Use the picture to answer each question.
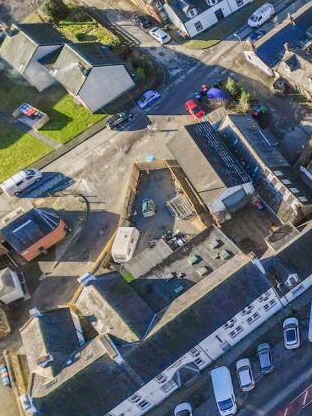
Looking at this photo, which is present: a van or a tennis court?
van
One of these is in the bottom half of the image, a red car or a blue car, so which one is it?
blue car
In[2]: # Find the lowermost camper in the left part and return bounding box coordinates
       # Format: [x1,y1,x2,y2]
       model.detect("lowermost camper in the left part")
[107,220,141,265]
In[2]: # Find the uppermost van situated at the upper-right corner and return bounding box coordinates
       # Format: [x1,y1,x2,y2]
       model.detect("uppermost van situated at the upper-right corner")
[246,0,277,29]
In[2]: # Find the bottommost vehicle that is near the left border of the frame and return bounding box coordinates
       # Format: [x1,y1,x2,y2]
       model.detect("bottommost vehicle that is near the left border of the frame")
[0,167,43,196]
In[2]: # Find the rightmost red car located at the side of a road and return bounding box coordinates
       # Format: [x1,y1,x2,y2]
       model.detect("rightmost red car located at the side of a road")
[182,97,206,121]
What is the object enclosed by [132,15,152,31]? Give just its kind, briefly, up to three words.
car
